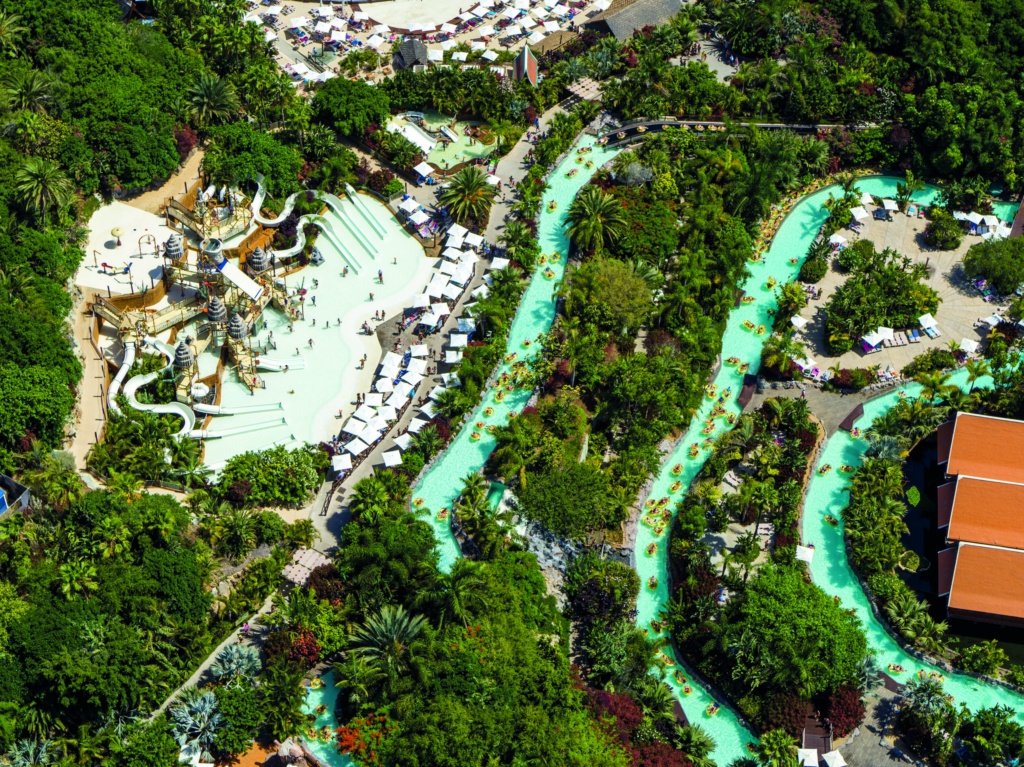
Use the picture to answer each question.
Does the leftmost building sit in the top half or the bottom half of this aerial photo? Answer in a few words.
bottom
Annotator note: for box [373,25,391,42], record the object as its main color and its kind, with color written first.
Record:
white umbrella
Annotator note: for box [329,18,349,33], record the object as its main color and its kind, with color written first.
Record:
white umbrella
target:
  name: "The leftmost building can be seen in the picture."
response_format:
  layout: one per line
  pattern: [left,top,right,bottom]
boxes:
[0,476,30,527]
